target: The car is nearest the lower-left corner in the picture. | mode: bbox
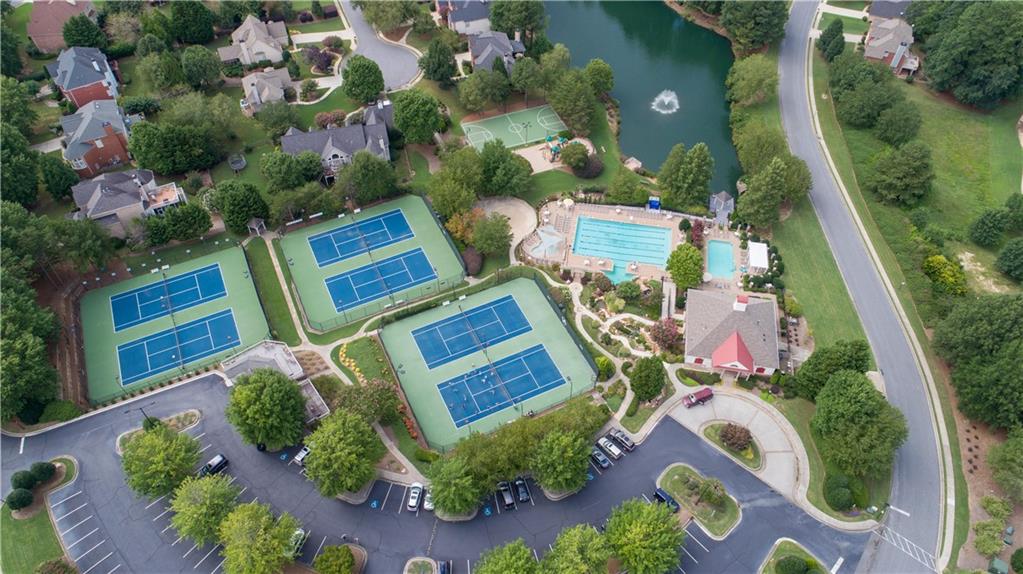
[199,452,228,476]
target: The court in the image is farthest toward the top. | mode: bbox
[463,104,567,152]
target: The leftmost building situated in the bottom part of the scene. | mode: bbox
[220,339,306,384]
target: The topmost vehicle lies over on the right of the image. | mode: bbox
[685,387,712,405]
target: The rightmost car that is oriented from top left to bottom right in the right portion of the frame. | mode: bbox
[654,485,682,510]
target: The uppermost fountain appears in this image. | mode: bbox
[649,91,681,112]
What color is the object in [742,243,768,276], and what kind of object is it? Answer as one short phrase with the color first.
white tent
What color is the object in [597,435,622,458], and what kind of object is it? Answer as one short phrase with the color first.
white car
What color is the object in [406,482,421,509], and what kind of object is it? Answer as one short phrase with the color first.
white car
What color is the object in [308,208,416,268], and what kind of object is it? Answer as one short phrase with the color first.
blue tennis court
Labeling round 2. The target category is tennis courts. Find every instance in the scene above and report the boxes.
[437,343,566,428]
[324,247,439,312]
[117,307,242,385]
[411,293,533,369]
[308,208,416,268]
[110,263,227,331]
